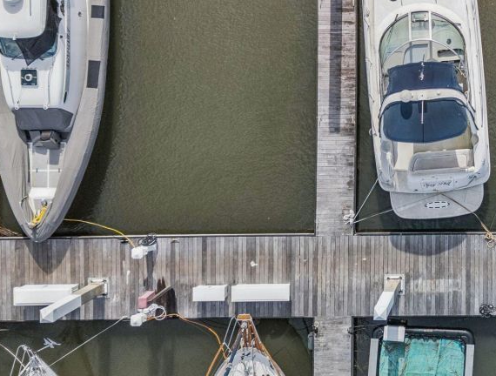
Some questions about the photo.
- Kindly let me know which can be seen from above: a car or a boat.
boat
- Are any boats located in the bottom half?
Yes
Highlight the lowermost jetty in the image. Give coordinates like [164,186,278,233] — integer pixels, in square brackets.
[312,318,357,376]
